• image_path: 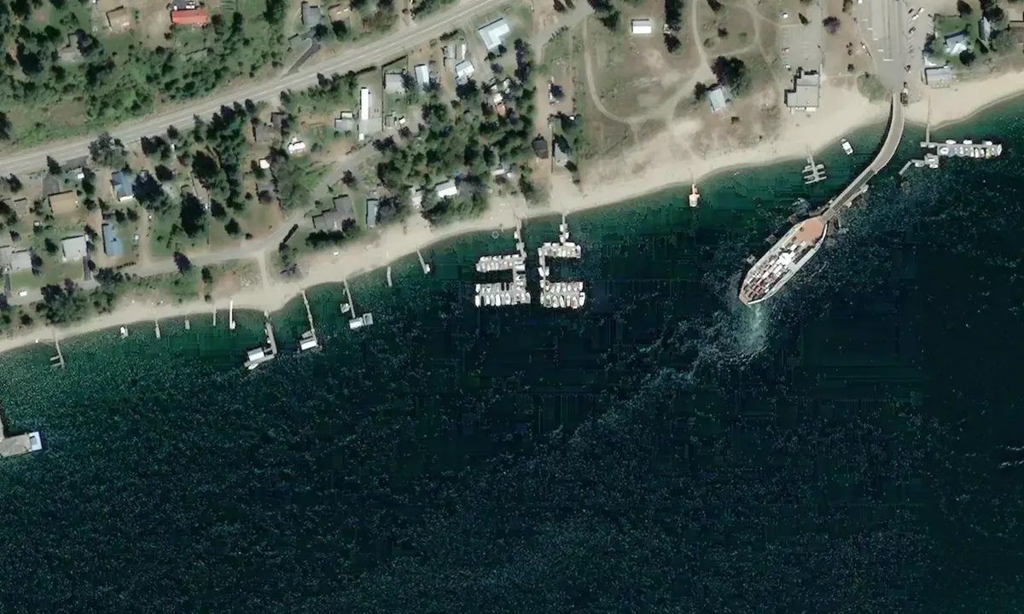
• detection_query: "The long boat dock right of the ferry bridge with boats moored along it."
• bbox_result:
[920,100,1001,156]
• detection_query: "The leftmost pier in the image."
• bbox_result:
[0,417,31,457]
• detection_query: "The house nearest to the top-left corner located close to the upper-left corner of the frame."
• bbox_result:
[59,39,83,61]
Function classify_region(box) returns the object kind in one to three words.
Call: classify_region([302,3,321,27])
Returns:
house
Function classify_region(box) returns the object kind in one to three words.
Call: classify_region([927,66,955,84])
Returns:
building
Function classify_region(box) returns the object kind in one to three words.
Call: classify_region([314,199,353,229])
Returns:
house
